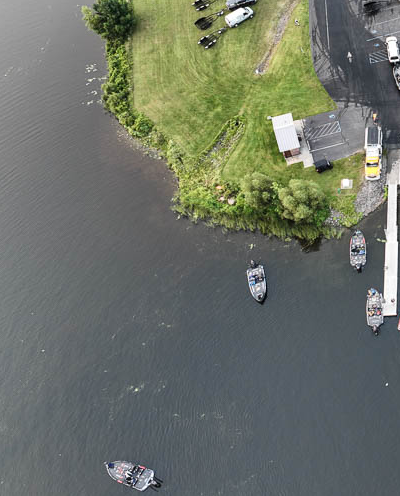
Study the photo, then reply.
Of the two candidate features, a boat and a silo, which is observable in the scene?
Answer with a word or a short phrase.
boat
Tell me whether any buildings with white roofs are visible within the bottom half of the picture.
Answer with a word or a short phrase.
No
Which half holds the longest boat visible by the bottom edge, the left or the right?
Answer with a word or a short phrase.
left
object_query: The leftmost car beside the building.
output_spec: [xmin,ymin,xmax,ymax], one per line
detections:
[311,158,335,173]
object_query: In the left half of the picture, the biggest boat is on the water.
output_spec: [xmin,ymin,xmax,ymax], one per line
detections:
[102,458,163,491]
